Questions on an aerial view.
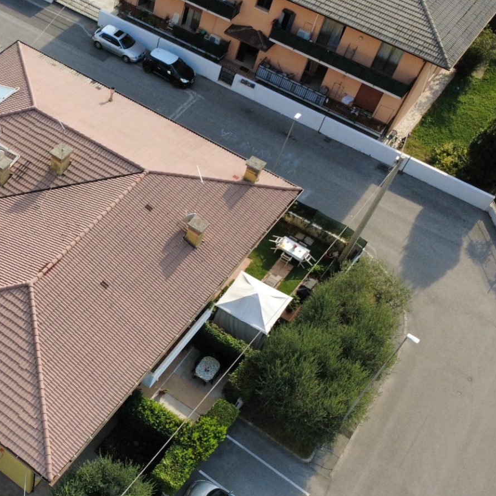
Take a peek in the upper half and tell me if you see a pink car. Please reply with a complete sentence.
No, in the upper half there is no pink car.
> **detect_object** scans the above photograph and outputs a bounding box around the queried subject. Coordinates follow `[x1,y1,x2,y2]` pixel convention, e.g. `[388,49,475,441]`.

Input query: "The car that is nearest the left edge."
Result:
[92,25,148,64]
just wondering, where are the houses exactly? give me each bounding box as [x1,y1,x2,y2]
[116,0,496,142]
[0,41,305,495]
